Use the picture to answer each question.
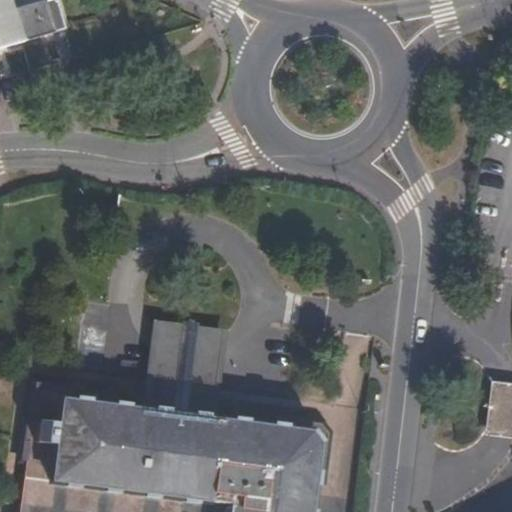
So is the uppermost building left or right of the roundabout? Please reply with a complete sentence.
From the viewer's perspective, the uppermost building falls to the left of the roundabout.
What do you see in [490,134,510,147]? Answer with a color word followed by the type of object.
white vehicle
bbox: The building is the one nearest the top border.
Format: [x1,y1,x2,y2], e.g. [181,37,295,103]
[0,0,68,52]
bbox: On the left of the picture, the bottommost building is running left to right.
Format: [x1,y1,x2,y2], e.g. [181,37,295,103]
[40,395,332,512]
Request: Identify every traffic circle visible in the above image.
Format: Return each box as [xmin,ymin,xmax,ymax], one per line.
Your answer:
[236,4,408,174]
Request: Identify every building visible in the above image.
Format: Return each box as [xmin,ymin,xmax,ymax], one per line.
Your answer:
[486,382,512,440]
[40,395,332,512]
[0,0,68,52]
